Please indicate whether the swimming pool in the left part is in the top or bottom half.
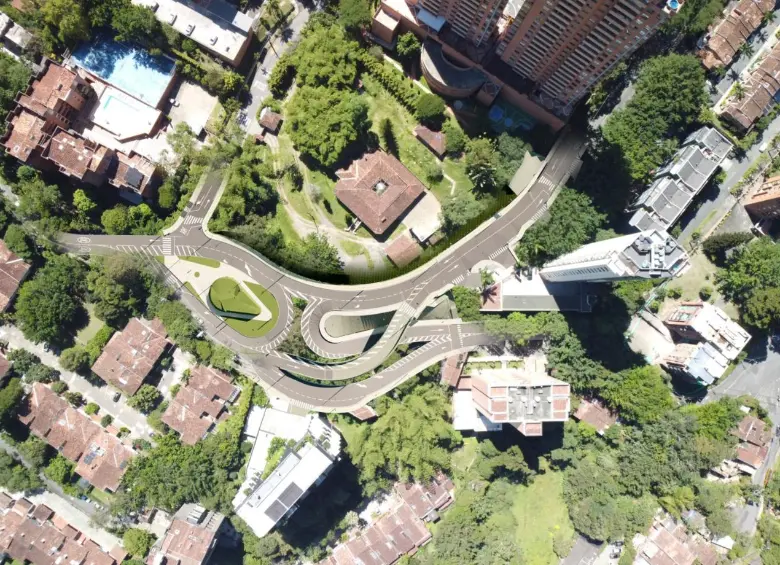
top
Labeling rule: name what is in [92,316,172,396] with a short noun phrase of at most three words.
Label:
house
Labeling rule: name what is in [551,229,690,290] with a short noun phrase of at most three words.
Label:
building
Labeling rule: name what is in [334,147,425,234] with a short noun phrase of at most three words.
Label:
house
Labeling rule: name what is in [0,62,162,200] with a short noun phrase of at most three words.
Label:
building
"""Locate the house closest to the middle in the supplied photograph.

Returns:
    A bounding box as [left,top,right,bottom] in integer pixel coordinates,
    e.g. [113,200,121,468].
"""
[385,235,422,267]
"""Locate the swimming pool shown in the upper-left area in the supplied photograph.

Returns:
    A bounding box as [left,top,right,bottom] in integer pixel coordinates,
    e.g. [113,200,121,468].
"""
[88,86,165,145]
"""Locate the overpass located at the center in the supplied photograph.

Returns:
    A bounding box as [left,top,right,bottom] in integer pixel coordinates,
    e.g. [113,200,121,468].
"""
[277,303,417,380]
